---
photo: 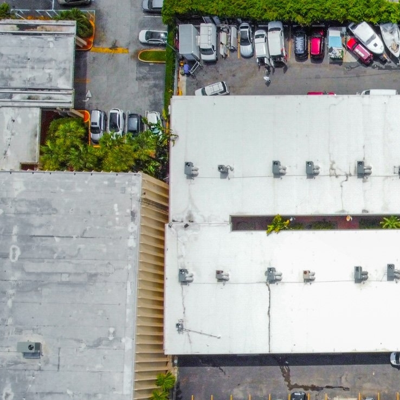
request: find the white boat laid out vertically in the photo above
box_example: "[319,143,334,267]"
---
[378,15,400,60]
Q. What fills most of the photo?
buildings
